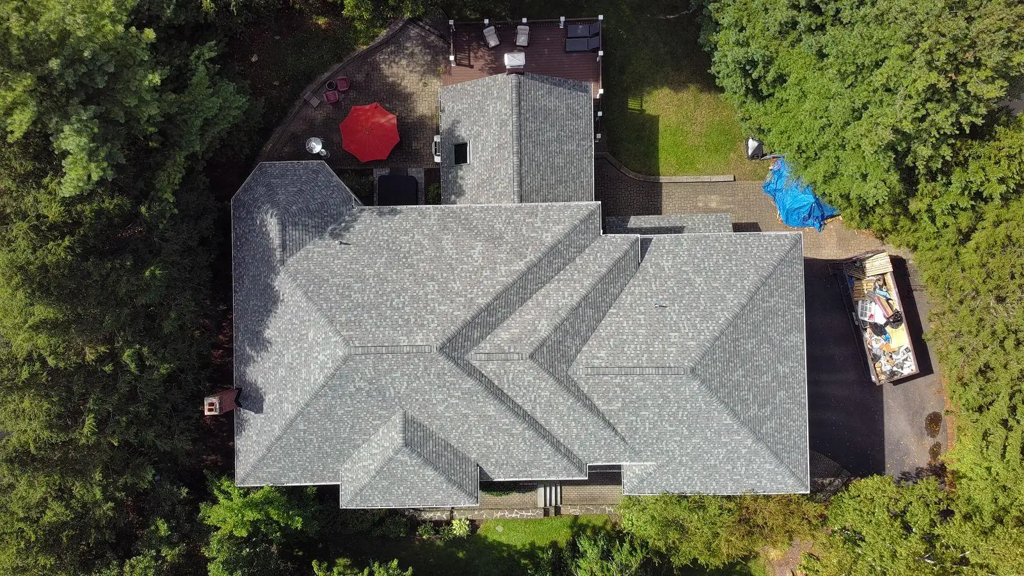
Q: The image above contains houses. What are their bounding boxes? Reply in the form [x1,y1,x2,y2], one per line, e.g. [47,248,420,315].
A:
[204,72,811,511]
